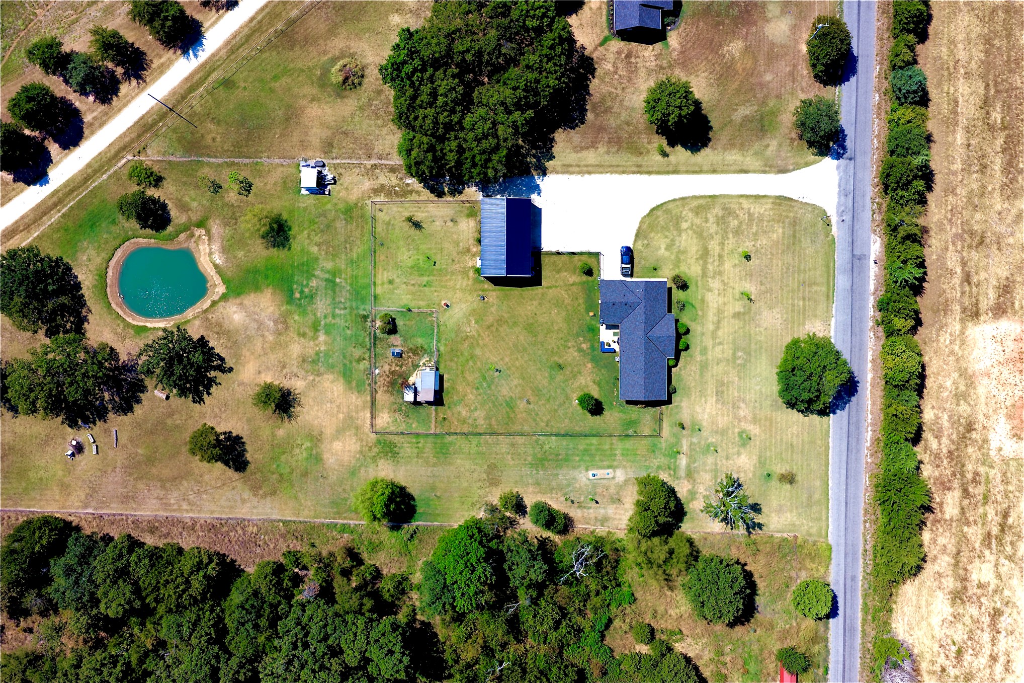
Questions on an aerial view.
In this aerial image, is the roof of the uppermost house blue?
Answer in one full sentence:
Yes, blue is the color of the roof of the uppermost house.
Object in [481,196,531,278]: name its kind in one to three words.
barn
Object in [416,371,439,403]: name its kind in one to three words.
house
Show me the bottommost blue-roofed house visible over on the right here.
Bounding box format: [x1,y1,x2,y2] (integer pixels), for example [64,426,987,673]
[600,279,676,401]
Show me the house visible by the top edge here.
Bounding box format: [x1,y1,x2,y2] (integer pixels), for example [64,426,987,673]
[610,0,674,42]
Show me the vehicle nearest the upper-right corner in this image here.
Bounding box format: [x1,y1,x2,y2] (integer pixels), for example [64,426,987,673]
[620,246,633,277]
